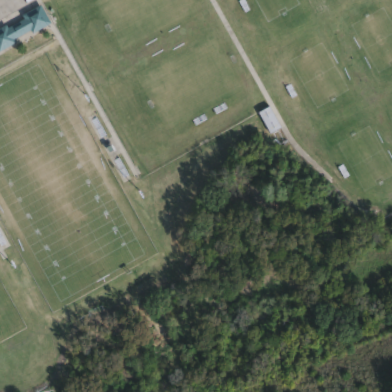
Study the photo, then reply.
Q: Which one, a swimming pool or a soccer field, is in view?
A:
soccer field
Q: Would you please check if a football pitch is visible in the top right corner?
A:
Yes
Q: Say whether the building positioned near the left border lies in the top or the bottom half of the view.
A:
top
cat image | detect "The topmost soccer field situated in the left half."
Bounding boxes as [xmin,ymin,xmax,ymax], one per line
[94,0,209,55]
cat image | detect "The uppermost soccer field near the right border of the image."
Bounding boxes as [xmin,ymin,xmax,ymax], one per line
[352,5,392,72]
